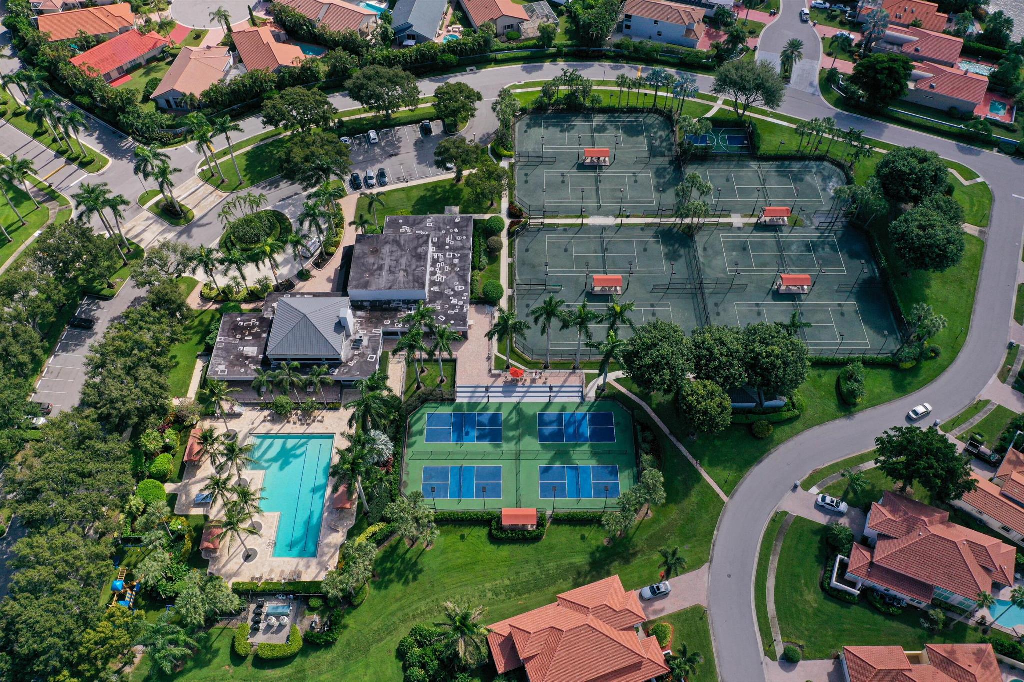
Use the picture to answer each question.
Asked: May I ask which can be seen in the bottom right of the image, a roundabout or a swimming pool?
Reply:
swimming pool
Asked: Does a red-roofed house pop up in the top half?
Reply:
Yes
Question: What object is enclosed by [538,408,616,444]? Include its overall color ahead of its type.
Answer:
blue sports court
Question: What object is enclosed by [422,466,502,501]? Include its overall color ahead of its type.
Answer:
blue sports court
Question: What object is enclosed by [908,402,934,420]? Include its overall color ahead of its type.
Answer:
white car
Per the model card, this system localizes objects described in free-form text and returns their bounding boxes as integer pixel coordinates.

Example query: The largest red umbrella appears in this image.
[510,367,527,382]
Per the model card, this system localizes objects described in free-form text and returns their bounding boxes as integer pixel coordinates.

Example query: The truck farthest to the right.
[964,440,1002,465]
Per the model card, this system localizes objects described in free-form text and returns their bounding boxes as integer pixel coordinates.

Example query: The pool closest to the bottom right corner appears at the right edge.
[988,598,1024,627]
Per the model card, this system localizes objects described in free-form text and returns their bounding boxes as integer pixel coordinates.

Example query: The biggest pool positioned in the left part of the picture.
[245,432,337,560]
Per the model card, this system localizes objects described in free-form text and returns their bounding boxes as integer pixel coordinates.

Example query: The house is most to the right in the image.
[959,447,1024,546]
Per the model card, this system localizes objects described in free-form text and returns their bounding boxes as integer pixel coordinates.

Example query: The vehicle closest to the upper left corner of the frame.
[68,318,95,330]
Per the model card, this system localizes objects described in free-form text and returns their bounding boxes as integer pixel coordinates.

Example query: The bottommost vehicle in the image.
[640,579,673,600]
